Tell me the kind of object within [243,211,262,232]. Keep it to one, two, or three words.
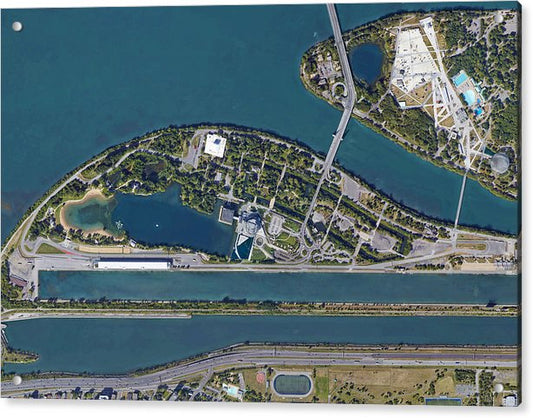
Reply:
building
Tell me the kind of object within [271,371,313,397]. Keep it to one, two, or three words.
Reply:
sports field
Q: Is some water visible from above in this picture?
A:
Yes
